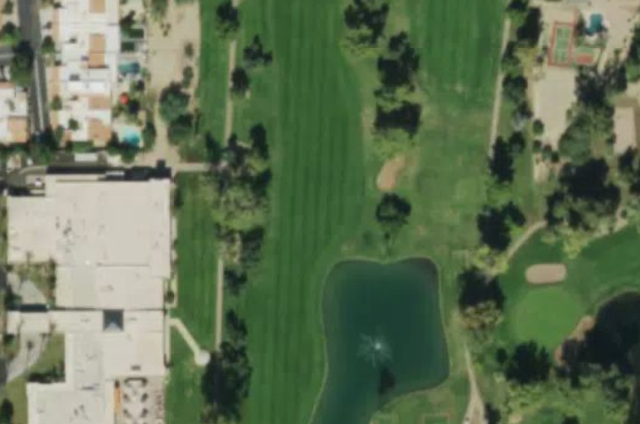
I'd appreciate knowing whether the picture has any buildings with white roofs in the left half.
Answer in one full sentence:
Yes, a building with a white roof is visible in the left half.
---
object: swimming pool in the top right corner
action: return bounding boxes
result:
[585,13,604,35]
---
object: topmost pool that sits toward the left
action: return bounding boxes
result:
[118,61,139,74]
